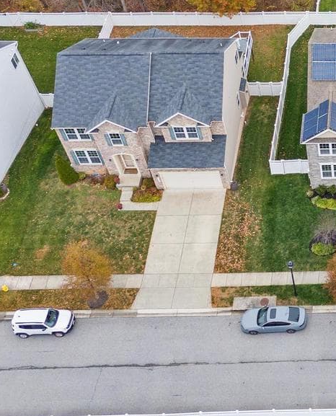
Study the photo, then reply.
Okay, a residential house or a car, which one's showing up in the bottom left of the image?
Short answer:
car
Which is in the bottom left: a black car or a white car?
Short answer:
white car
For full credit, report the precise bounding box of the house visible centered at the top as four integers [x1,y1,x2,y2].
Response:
[51,21,256,194]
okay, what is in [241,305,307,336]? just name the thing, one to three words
car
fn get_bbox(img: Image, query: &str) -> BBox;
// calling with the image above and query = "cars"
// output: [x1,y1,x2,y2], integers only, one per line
[241,305,307,336]
[9,307,72,338]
